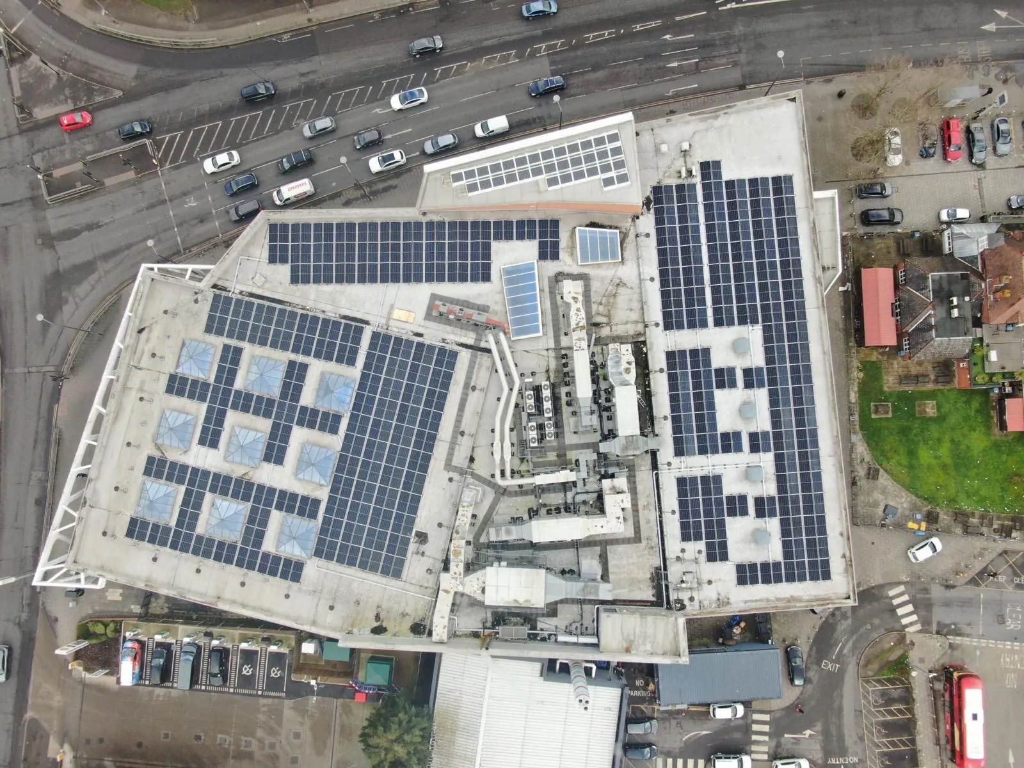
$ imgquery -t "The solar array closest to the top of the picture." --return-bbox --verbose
[451,132,632,195]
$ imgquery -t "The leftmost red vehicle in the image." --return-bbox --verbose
[58,110,96,132]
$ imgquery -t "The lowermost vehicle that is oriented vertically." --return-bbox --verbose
[945,669,995,768]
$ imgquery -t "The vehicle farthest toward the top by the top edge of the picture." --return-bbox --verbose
[520,0,560,21]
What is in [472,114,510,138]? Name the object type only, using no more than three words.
vehicle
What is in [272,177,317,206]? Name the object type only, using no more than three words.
van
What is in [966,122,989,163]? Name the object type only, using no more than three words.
car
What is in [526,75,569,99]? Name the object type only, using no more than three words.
car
